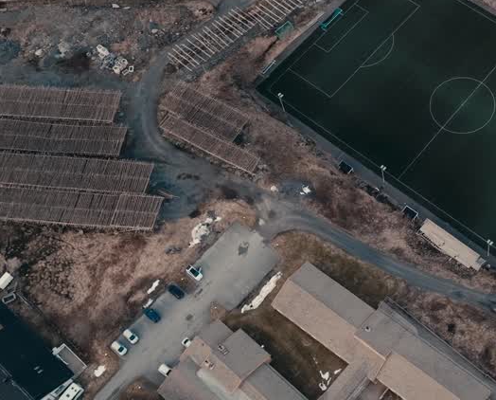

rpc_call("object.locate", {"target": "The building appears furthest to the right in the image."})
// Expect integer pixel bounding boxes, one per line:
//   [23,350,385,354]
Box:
[378,324,496,400]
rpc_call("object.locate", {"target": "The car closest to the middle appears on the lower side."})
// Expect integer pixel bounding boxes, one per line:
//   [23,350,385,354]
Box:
[186,265,204,282]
